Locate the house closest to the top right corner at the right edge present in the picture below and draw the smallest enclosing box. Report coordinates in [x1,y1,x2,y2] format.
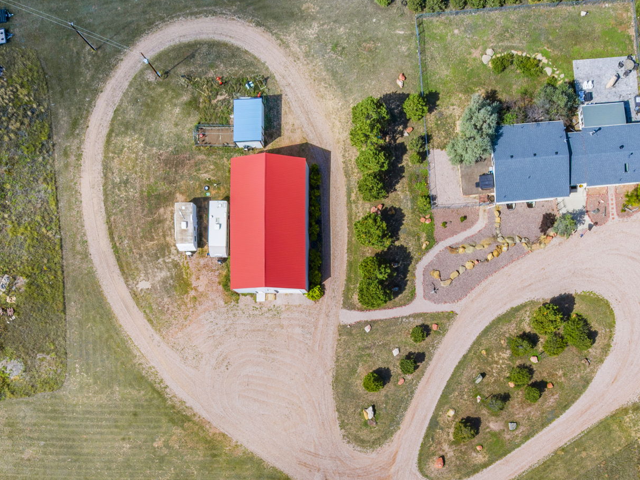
[490,102,640,207]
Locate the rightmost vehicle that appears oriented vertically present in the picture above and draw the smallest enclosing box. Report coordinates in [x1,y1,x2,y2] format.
[209,201,230,269]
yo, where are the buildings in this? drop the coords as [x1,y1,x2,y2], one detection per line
[230,152,308,294]
[490,102,640,207]
[233,99,265,148]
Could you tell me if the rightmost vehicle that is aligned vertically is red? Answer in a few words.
No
